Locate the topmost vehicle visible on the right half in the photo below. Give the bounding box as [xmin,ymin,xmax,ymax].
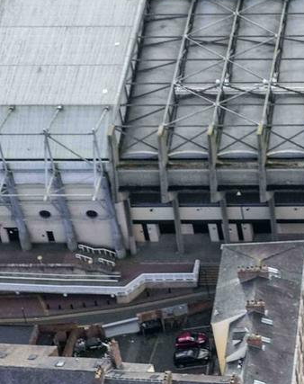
[171,329,209,349]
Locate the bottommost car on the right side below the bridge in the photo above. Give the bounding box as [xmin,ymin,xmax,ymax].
[171,345,209,366]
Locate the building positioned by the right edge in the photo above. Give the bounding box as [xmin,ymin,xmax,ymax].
[211,238,304,384]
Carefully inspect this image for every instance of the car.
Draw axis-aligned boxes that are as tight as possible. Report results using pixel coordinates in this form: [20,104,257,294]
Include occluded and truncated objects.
[171,329,209,349]
[79,338,110,357]
[171,345,209,366]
